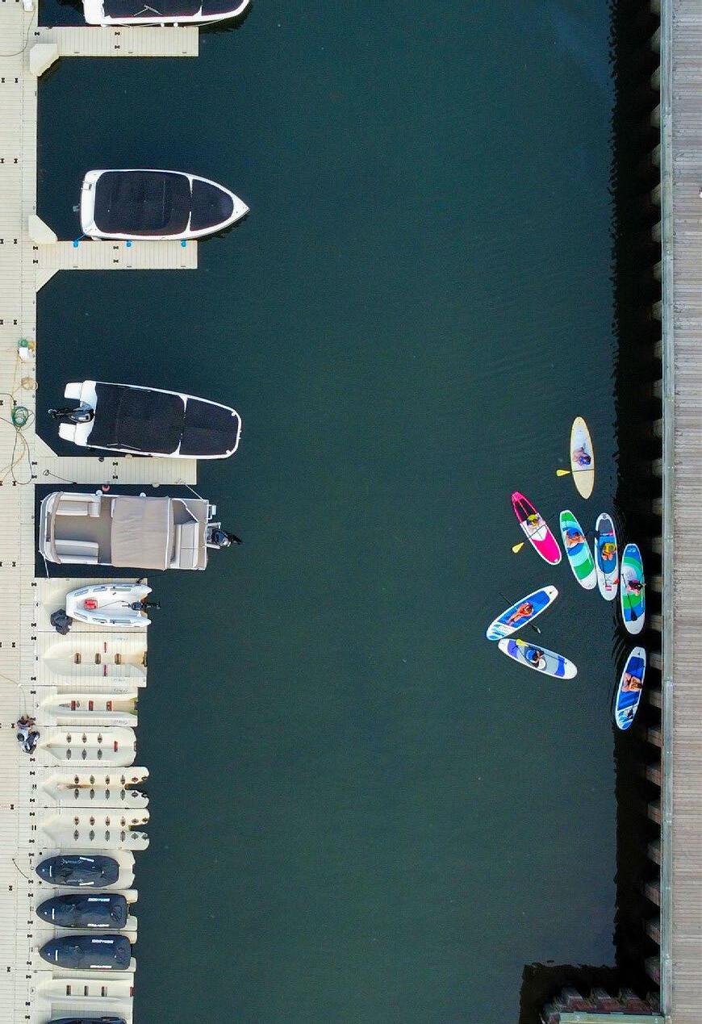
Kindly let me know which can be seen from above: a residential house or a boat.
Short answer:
boat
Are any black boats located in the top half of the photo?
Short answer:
Yes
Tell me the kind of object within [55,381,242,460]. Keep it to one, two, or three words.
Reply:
boat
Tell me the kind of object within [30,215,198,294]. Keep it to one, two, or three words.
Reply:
pier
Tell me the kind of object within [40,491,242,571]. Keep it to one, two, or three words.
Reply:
boat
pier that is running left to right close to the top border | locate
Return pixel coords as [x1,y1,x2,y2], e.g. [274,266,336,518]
[31,28,200,84]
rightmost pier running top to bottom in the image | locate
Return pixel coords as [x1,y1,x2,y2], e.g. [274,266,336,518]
[648,0,702,1024]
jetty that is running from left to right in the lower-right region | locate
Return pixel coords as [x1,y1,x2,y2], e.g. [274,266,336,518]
[532,986,661,1024]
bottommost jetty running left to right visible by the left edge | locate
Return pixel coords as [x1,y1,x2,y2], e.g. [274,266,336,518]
[32,434,198,484]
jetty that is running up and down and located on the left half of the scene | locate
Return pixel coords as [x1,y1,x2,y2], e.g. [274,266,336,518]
[0,0,41,1024]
